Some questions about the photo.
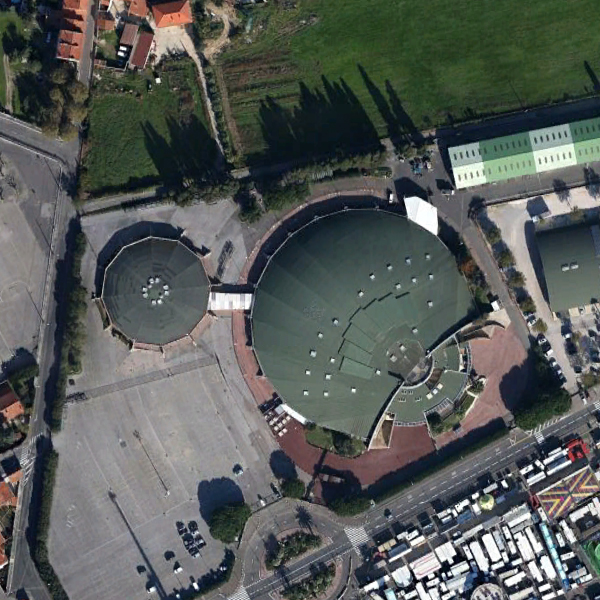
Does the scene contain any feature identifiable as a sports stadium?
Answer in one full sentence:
Yes, there's a sports stadium here.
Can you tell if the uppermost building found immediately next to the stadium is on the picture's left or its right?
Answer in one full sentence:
The uppermost building found immediately next to the stadium appears in the right half of the scene.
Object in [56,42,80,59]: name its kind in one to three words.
house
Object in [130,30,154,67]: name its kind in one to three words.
barn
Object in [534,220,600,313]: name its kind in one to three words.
building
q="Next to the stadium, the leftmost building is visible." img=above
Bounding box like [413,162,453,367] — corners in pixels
[94,229,218,352]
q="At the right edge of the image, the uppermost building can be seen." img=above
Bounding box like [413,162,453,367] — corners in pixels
[448,117,600,189]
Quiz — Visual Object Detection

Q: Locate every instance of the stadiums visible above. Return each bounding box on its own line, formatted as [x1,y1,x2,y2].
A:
[244,203,511,449]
